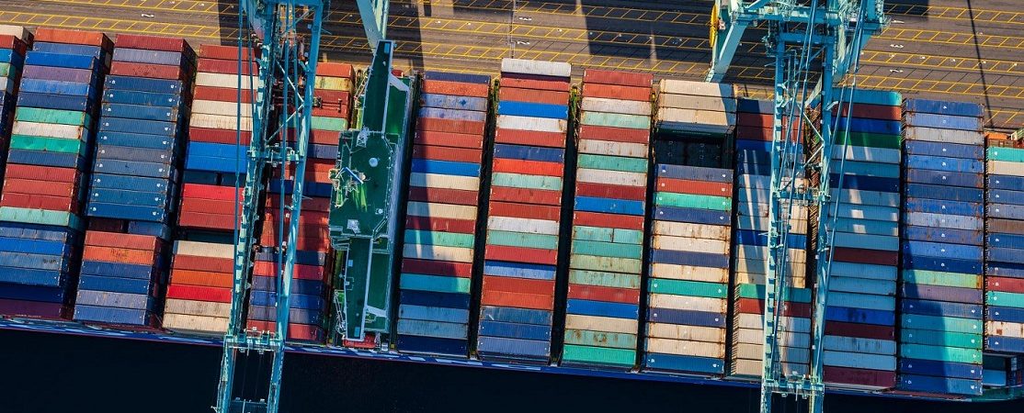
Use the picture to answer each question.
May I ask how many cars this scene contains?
zero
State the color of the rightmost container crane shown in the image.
blue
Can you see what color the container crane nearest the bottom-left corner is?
blue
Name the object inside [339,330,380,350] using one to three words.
boat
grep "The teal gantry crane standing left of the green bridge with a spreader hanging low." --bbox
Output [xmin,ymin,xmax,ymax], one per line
[218,0,415,413]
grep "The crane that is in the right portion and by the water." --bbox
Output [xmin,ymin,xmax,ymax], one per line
[695,0,901,413]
